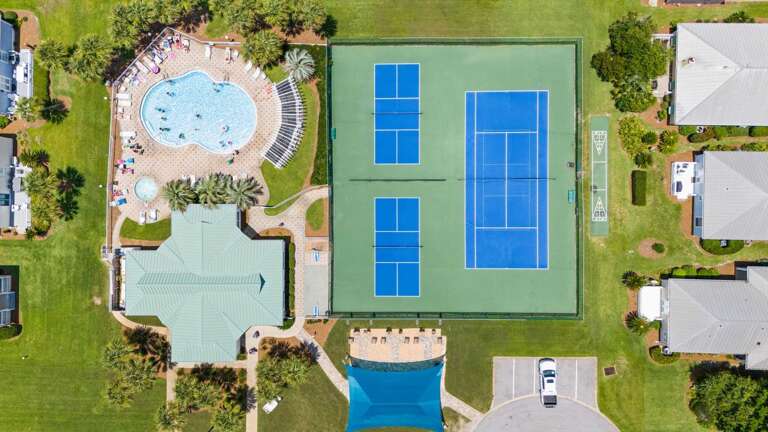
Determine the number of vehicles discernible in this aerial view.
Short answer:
2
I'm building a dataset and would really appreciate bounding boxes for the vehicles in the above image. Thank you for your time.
[262,394,284,415]
[541,358,562,406]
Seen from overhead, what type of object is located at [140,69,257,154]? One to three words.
swimming pool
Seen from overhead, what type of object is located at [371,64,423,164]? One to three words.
sports court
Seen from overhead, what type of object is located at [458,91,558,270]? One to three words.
tennis court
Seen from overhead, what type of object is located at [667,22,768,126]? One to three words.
house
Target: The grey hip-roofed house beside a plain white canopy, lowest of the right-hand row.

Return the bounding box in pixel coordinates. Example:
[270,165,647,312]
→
[659,266,768,369]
